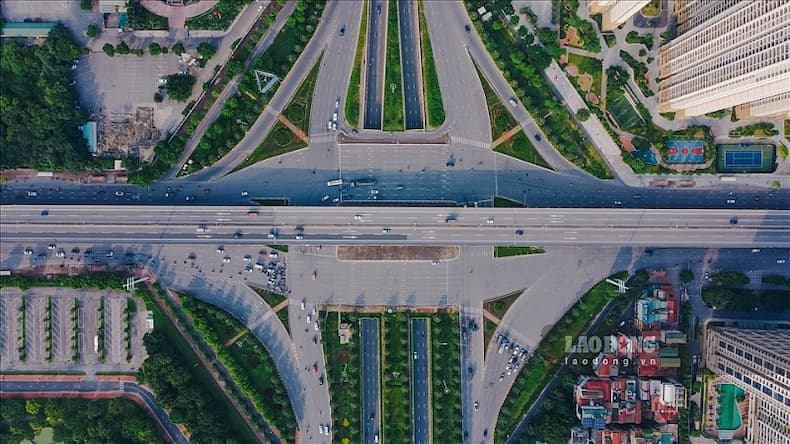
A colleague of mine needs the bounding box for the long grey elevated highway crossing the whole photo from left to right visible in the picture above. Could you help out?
[0,205,790,249]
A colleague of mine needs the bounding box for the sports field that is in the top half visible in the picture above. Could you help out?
[607,91,647,132]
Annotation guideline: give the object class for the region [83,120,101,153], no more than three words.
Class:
shed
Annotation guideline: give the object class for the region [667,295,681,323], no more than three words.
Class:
house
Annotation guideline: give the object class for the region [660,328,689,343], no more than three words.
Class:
house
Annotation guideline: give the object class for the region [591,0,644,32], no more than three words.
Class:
building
